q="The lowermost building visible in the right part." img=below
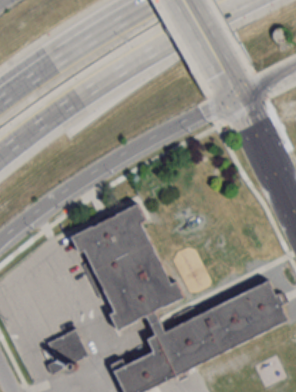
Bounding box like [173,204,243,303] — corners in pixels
[112,282,288,392]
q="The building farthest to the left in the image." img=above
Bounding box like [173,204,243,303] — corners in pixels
[45,322,87,374]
